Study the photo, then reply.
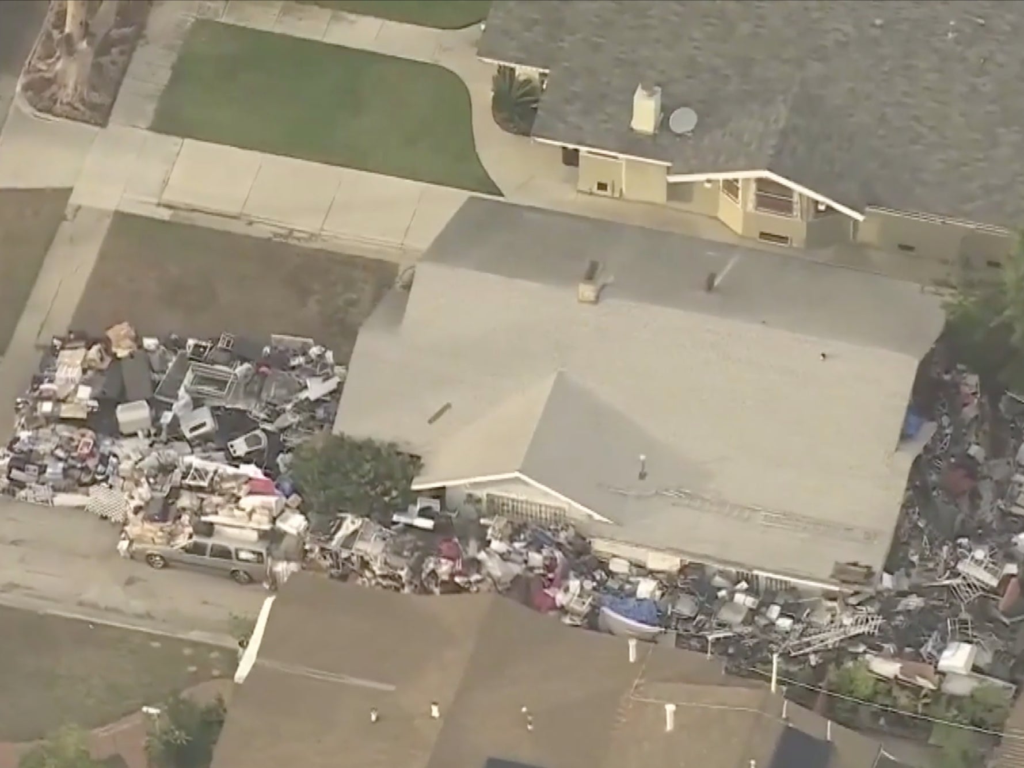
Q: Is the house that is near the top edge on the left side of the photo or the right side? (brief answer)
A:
right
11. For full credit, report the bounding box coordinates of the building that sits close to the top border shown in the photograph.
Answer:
[478,0,1024,266]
